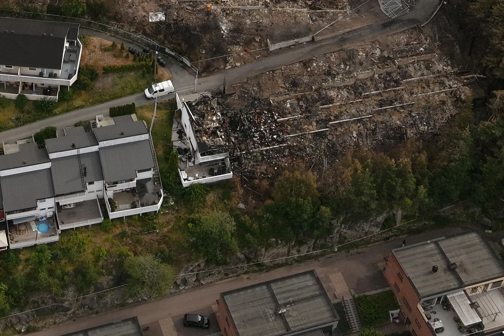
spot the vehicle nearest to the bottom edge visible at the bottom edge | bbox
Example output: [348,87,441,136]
[183,313,211,330]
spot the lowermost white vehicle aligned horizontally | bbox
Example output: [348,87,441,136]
[144,77,176,96]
